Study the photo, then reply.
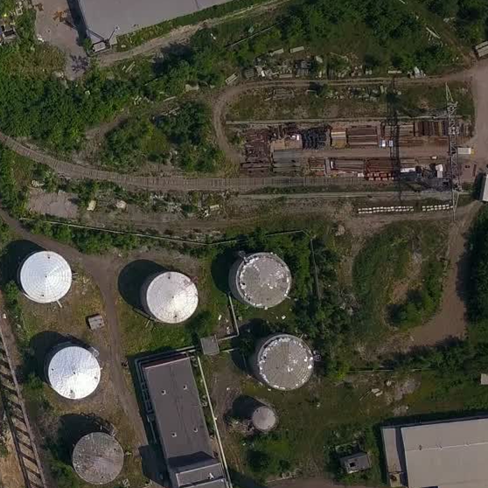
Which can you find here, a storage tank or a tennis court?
storage tank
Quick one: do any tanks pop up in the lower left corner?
Yes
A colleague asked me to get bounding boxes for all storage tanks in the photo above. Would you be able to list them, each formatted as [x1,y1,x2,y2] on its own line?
[47,340,101,399]
[19,249,75,307]
[252,330,317,391]
[229,251,292,307]
[142,270,199,327]
[70,425,125,485]
[243,402,276,430]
